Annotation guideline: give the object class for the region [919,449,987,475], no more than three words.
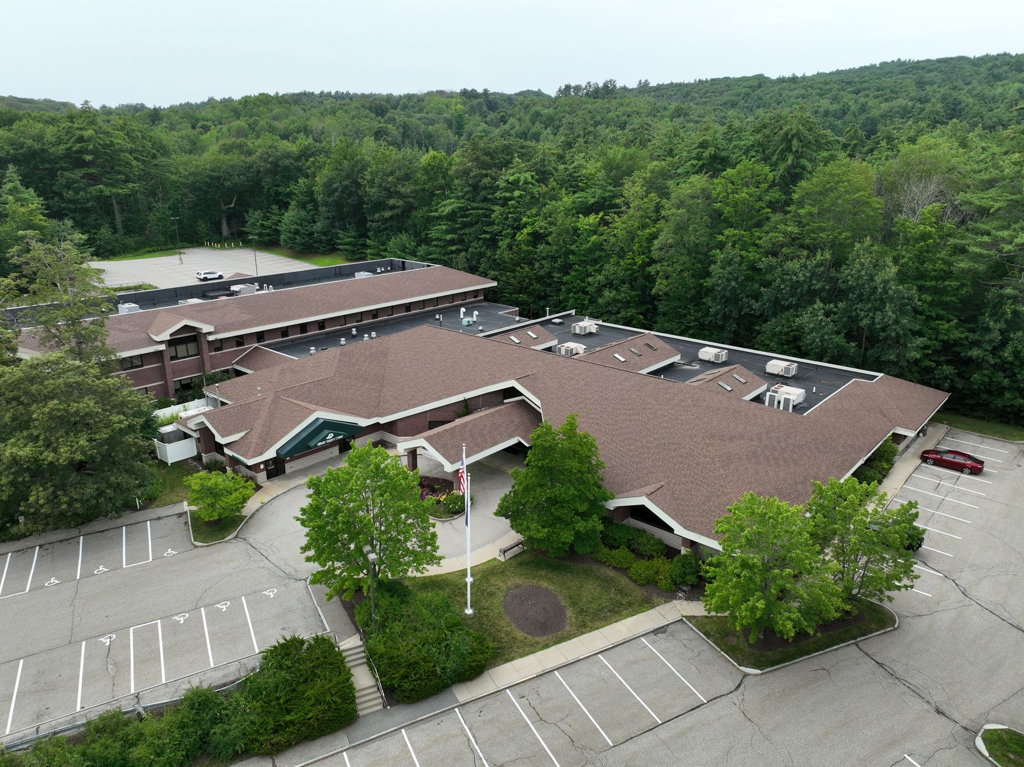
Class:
car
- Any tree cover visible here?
Yes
